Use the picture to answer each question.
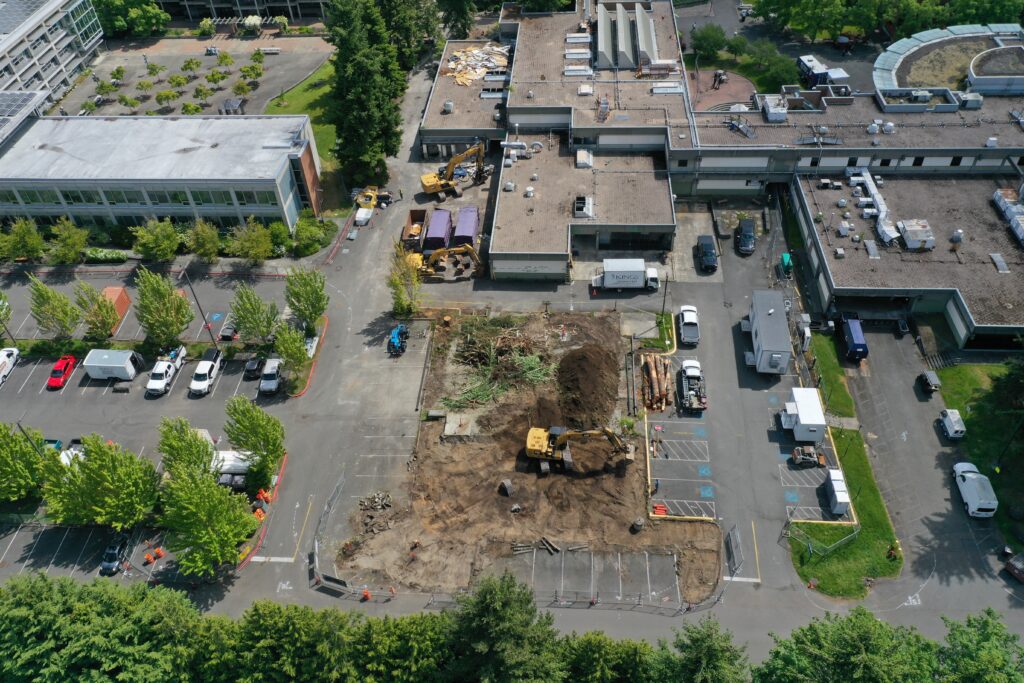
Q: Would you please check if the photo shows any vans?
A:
Yes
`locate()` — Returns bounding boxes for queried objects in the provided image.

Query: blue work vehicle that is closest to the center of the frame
[386,318,407,351]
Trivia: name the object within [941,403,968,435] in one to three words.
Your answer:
vehicle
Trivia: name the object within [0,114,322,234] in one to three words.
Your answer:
building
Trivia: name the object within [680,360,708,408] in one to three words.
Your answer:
truck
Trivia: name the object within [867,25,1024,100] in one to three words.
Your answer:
building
